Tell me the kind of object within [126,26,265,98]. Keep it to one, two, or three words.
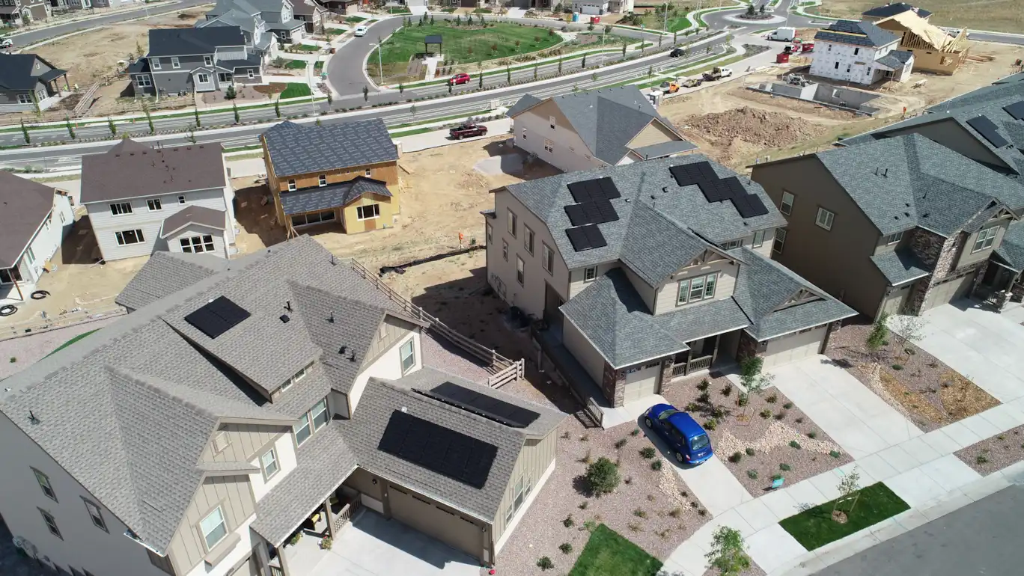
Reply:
house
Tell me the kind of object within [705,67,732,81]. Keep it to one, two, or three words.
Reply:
vehicle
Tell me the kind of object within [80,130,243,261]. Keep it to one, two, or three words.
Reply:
house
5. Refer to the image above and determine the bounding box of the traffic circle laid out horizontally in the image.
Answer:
[686,8,821,29]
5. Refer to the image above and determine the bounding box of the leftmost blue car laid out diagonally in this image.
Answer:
[643,401,716,467]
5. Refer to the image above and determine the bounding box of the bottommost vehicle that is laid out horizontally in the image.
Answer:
[449,123,486,140]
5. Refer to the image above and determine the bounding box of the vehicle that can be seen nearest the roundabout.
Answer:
[770,26,799,42]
